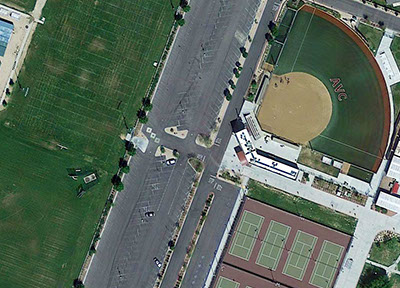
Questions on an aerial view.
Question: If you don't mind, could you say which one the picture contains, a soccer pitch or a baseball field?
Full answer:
There is a baseball field in the scene.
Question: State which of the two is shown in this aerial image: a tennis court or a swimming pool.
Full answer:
It is a tennis court that can be seen here.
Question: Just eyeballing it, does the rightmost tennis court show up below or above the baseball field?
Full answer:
Looking at the scene, the rightmost tennis court is located below the baseball field.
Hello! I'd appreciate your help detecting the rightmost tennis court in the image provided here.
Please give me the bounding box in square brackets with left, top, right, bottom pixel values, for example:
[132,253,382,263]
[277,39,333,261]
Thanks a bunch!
[309,240,346,288]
